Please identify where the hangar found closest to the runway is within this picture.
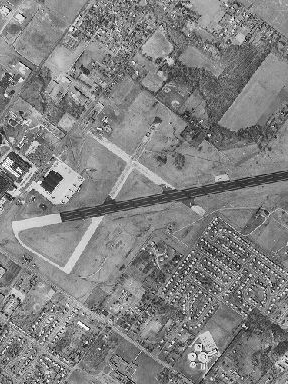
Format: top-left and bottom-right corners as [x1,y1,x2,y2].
[39,170,63,194]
